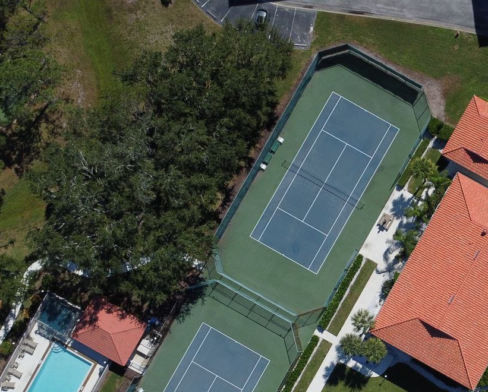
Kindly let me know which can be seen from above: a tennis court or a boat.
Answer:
tennis court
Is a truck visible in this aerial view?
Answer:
No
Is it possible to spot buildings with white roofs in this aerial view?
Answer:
No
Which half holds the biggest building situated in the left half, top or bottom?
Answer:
bottom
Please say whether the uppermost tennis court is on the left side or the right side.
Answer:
right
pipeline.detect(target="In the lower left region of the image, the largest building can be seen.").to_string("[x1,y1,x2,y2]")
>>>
[71,302,149,366]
